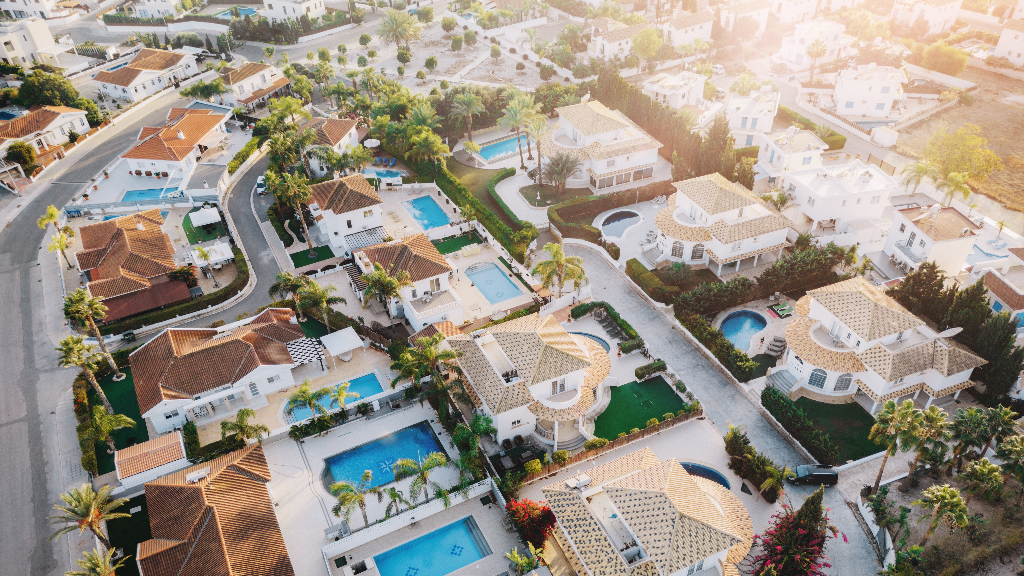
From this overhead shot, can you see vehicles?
Yes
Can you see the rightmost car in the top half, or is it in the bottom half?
bottom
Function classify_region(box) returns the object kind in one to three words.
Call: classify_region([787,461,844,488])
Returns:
car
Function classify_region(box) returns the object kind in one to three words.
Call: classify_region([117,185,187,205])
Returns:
swimming pool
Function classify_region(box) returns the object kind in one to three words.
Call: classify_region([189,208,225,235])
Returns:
gazebo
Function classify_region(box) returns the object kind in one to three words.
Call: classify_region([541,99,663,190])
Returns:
house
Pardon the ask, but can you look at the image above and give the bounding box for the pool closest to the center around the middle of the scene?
[462,260,527,306]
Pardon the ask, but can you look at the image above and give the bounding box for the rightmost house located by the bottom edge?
[536,444,756,576]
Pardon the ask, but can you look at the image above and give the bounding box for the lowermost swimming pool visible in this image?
[371,509,496,576]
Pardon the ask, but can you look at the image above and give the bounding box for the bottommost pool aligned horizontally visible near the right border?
[966,244,1009,264]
